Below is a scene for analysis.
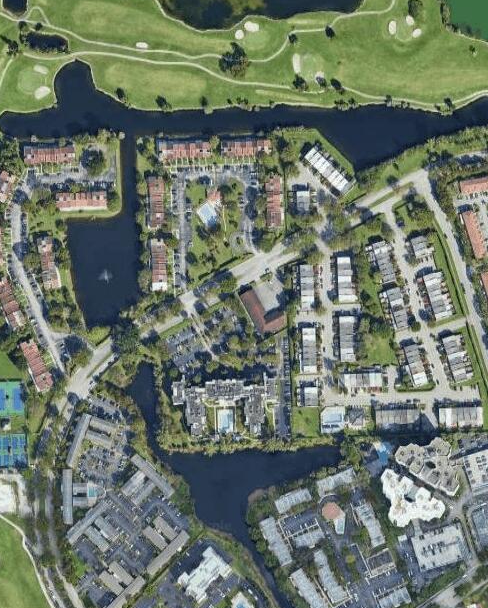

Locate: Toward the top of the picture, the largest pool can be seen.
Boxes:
[197,200,222,228]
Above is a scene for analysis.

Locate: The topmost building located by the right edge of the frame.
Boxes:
[459,175,488,197]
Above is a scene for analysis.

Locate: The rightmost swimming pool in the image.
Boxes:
[372,439,394,466]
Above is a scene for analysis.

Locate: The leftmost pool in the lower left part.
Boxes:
[88,482,106,505]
